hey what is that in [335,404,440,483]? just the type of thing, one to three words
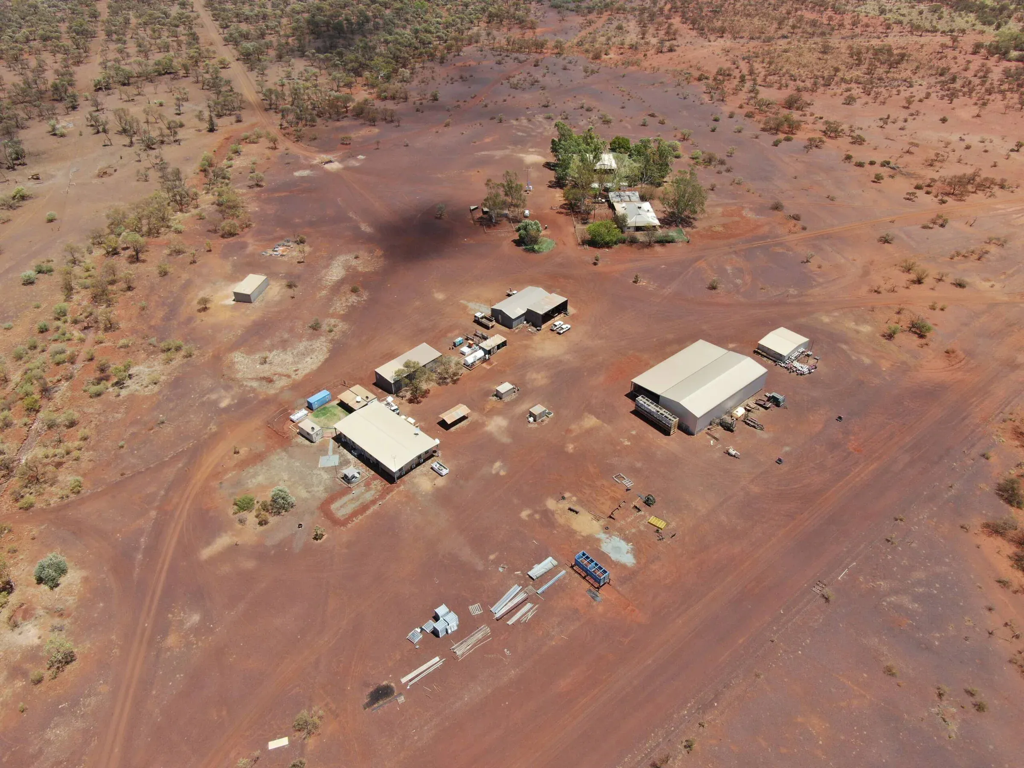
building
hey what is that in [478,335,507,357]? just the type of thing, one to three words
shed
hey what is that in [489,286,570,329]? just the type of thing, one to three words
building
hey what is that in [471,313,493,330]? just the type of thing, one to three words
vehicle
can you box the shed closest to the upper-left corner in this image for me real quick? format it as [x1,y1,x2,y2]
[231,279,267,306]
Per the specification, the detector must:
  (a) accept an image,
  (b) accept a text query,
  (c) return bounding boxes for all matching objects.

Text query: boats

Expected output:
[433,462,450,476]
